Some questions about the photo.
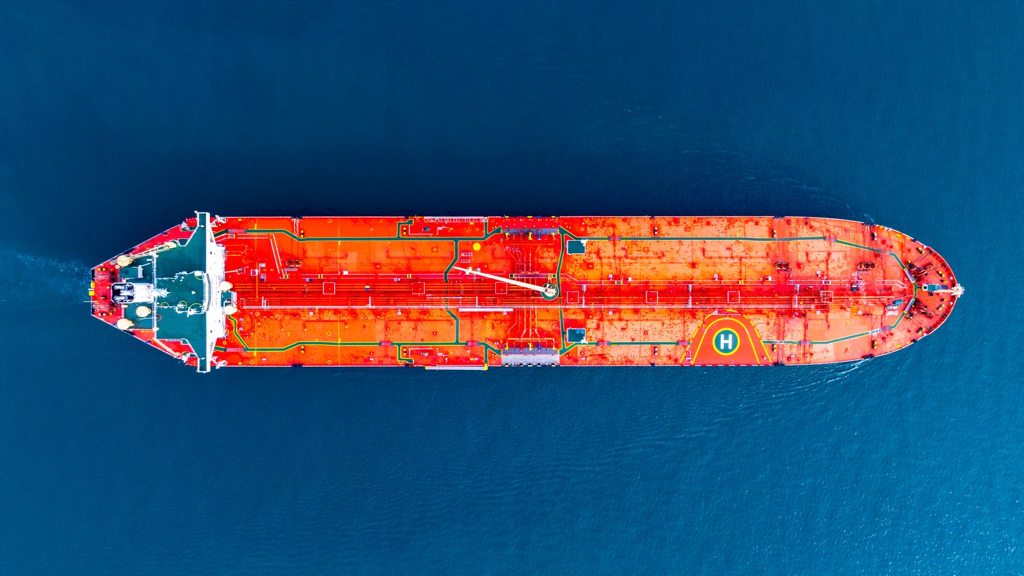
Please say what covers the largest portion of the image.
water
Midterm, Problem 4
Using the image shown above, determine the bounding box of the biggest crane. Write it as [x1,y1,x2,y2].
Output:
[454,264,559,300]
